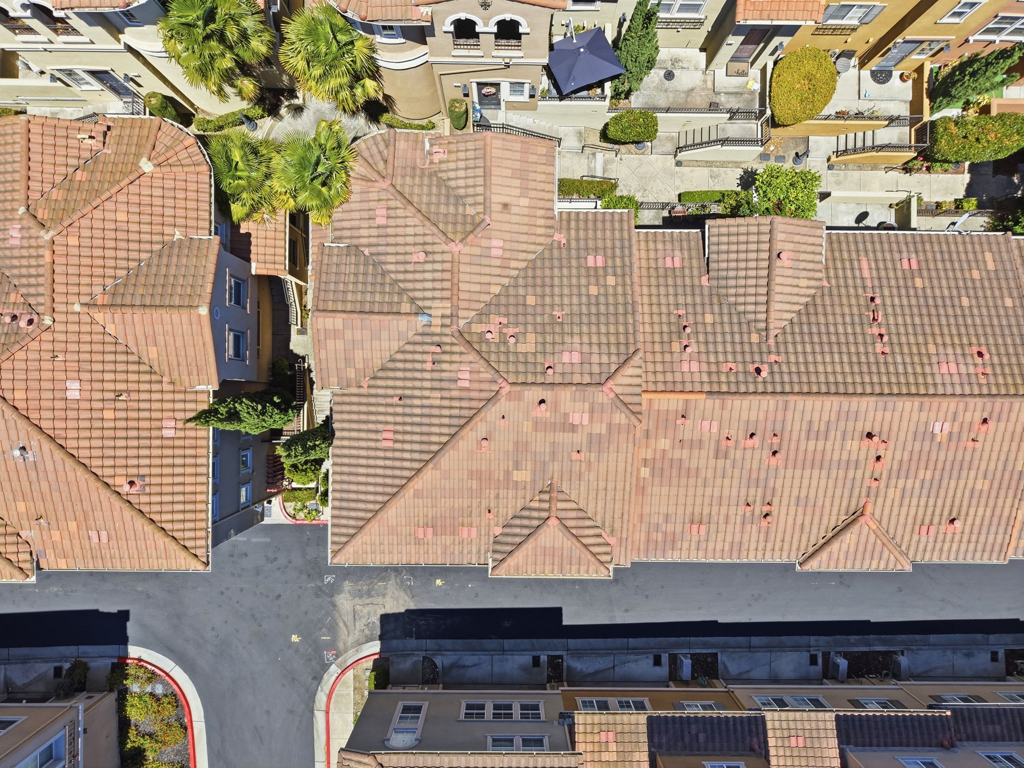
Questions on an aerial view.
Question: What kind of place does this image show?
residential area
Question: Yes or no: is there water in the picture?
No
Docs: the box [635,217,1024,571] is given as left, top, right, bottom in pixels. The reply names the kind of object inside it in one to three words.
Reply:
house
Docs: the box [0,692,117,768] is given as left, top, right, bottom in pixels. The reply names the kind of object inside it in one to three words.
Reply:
house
